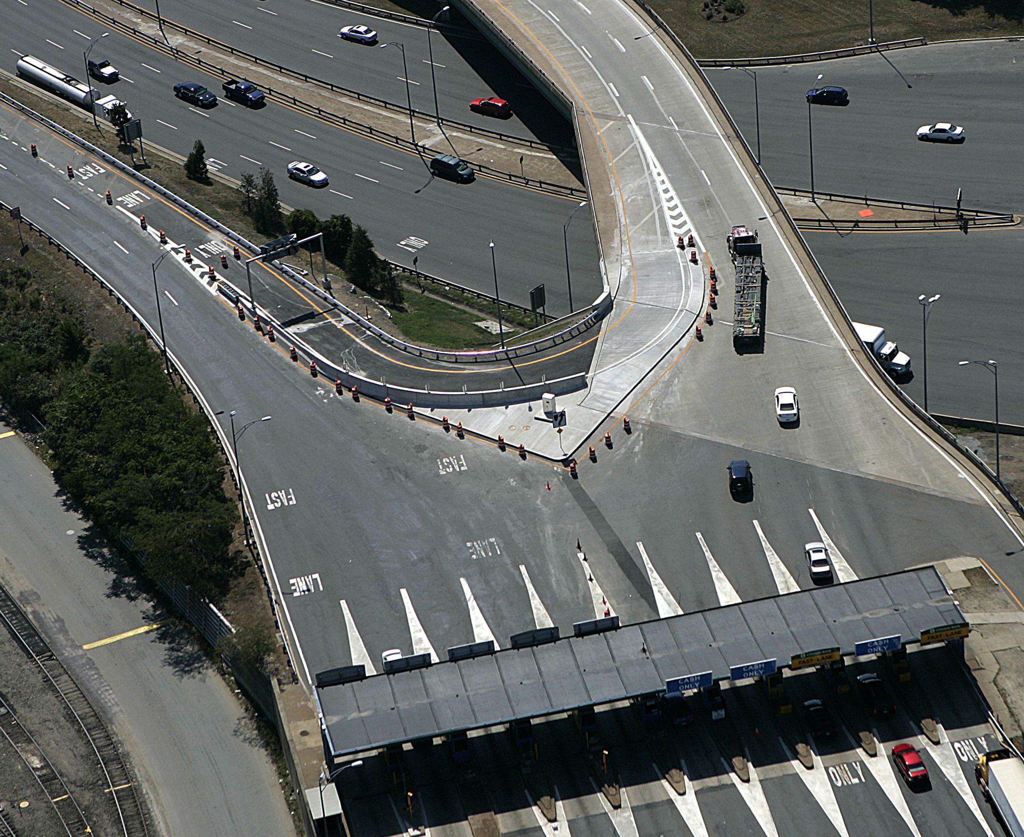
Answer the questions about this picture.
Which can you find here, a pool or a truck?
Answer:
truck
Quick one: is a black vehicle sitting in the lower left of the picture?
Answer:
No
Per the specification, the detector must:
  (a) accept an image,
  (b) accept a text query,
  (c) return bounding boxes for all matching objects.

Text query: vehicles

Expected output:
[772,385,800,423]
[380,650,407,671]
[850,668,893,715]
[284,160,331,186]
[803,540,834,583]
[914,119,969,141]
[219,77,270,107]
[801,82,853,104]
[466,94,515,117]
[336,22,382,44]
[10,55,139,138]
[726,460,753,496]
[889,738,933,789]
[425,148,478,180]
[978,758,1024,837]
[797,689,839,736]
[847,312,914,379]
[173,79,218,106]
[87,52,121,81]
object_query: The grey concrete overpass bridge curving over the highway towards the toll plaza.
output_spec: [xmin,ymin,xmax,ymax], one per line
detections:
[440,0,1024,541]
